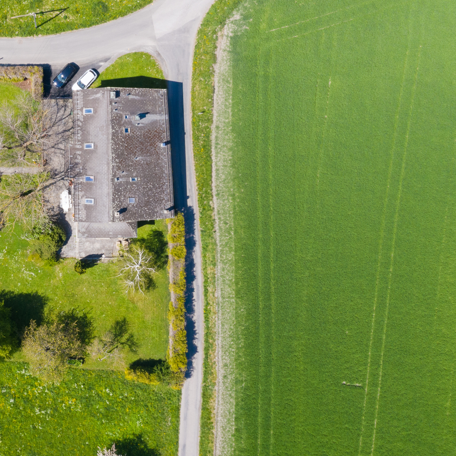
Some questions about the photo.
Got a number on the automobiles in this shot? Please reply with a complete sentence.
In total, there are 2 automobiles in the scene.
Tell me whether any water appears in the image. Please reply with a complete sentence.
No, there's no water in this view.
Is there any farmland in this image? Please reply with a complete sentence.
Yes, the picture does contain farmland.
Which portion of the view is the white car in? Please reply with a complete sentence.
Look in the top left portion of the view to spot the white car.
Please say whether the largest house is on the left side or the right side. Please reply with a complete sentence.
You can find the largest house on the left side of the picture.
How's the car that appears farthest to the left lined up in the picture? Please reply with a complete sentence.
The car that appears farthest to the left has been laid out on a diagonal relative to the frame.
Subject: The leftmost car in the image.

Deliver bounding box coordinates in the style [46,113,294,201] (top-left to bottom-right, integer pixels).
[53,62,77,89]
